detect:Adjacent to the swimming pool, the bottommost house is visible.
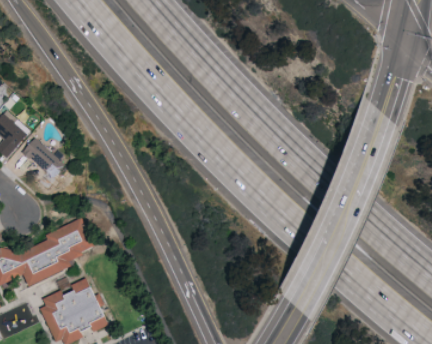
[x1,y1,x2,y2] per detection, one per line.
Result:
[22,136,63,173]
